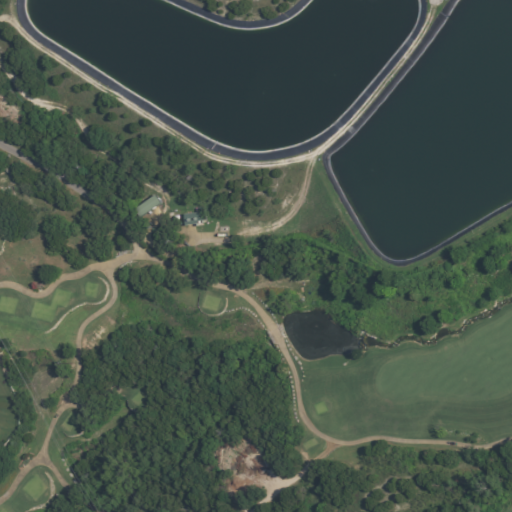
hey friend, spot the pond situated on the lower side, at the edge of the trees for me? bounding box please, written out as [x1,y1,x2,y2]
[285,310,360,358]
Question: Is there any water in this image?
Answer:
Yes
